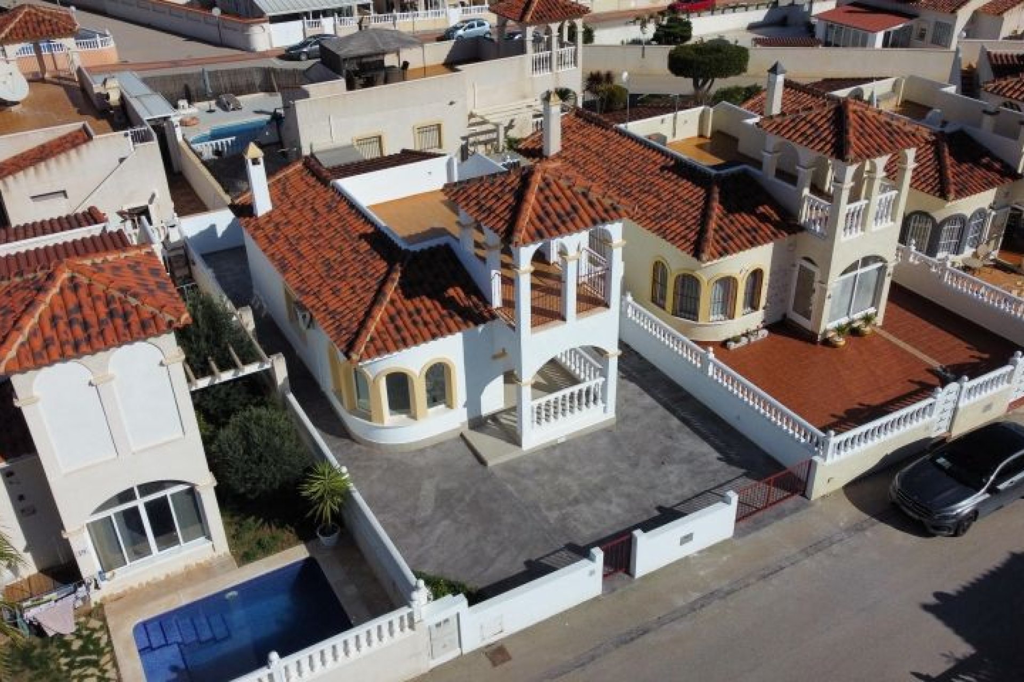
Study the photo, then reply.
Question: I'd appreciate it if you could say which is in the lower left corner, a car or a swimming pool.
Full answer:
The feature located in the lower left corner is a swimming pool.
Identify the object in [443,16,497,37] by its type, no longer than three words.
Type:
car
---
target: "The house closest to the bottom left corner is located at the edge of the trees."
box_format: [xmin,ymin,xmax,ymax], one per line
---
[0,203,231,615]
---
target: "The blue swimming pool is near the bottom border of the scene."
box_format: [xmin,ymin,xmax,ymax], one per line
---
[135,558,354,682]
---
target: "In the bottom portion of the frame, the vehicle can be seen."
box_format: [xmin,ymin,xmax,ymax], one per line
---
[886,418,1024,533]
